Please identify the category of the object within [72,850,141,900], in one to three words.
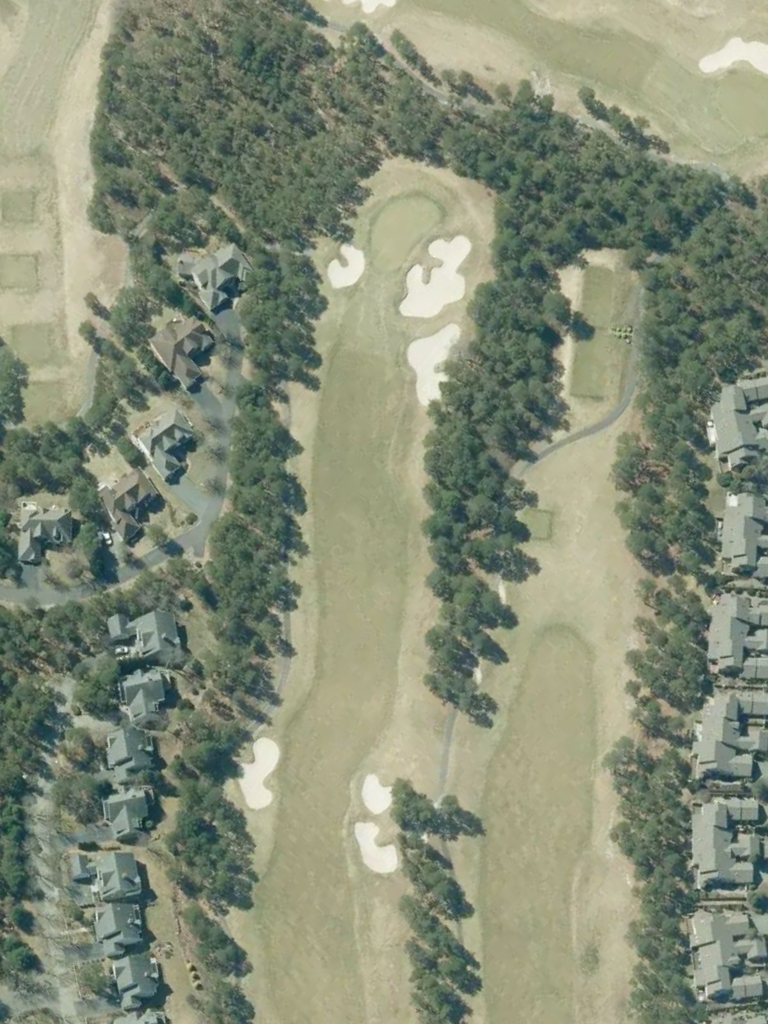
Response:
house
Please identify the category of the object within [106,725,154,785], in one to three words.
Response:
house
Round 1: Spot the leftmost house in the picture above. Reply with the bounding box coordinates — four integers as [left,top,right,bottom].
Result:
[18,501,72,563]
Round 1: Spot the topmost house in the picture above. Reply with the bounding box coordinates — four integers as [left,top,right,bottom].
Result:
[178,243,249,312]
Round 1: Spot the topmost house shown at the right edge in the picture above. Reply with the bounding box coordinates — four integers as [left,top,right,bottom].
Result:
[707,377,768,466]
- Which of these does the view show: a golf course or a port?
golf course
